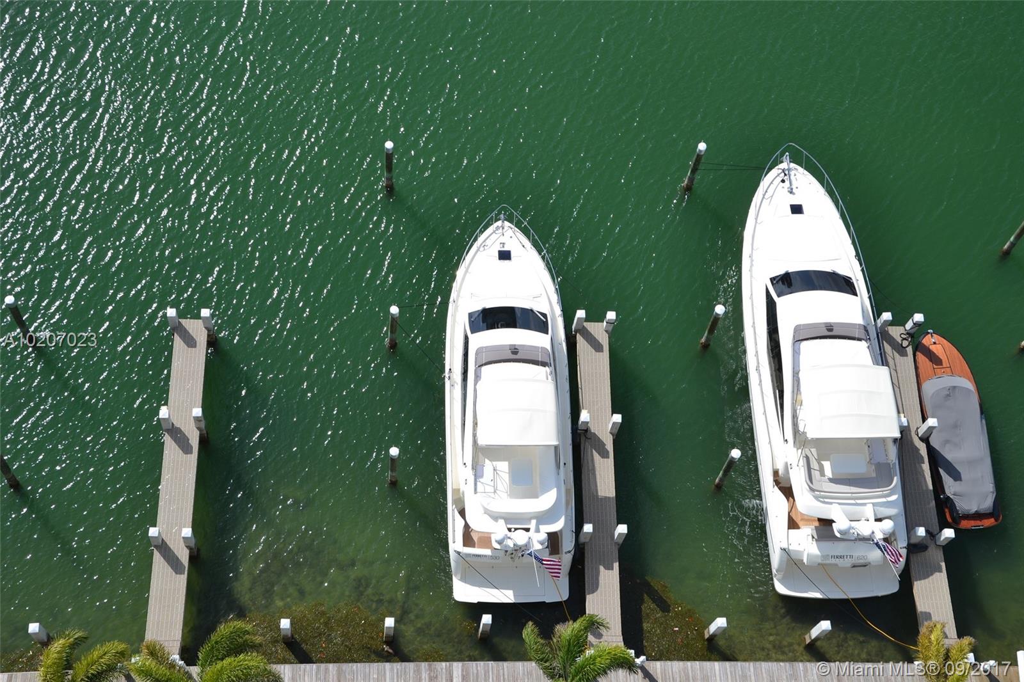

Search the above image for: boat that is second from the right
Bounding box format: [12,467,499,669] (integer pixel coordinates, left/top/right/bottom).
[743,144,907,599]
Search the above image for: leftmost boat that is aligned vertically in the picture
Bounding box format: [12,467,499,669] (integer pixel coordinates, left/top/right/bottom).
[445,206,574,604]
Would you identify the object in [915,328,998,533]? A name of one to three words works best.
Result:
boat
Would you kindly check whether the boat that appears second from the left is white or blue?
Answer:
white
